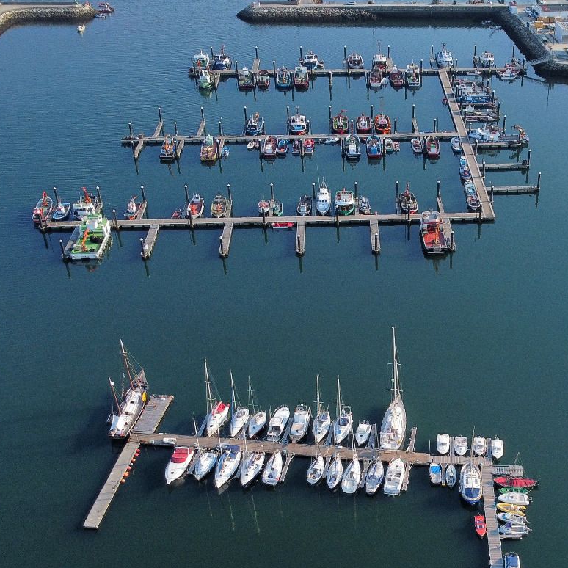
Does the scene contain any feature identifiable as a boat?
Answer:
Yes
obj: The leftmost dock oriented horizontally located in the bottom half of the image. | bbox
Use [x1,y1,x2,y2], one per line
[131,433,430,465]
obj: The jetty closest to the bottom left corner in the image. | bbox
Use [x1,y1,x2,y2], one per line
[84,444,140,529]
